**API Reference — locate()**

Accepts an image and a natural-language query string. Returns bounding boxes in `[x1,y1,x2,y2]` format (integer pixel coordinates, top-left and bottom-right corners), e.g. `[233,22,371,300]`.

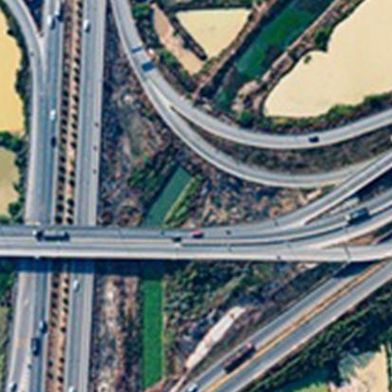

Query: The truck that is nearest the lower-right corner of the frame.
[223,345,255,370]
